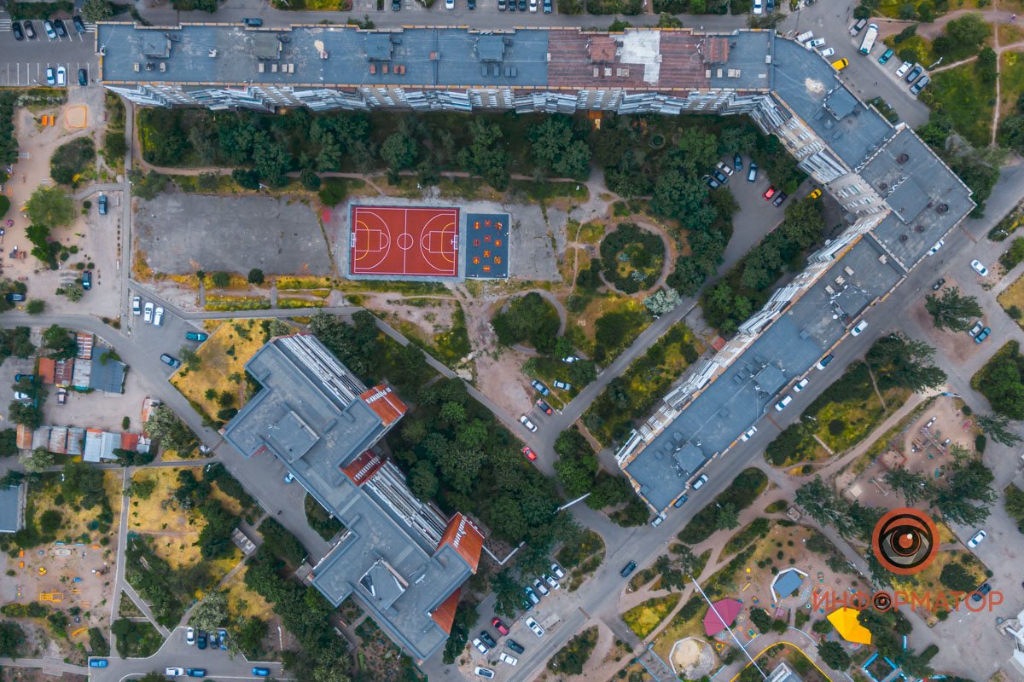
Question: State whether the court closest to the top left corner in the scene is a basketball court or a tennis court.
basketball court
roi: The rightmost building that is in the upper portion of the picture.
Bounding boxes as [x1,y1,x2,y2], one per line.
[825,120,976,271]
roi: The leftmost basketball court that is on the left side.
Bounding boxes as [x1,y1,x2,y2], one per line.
[351,205,459,276]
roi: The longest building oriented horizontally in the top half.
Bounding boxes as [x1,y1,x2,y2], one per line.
[96,21,774,130]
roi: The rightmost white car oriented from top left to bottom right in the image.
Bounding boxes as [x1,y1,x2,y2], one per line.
[972,260,988,276]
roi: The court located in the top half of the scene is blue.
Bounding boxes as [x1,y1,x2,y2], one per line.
[465,213,510,277]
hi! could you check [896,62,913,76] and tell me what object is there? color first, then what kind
white car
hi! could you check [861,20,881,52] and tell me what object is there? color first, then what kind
white vehicle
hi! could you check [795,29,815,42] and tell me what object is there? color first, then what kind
white vehicle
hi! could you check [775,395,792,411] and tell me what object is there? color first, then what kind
white car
